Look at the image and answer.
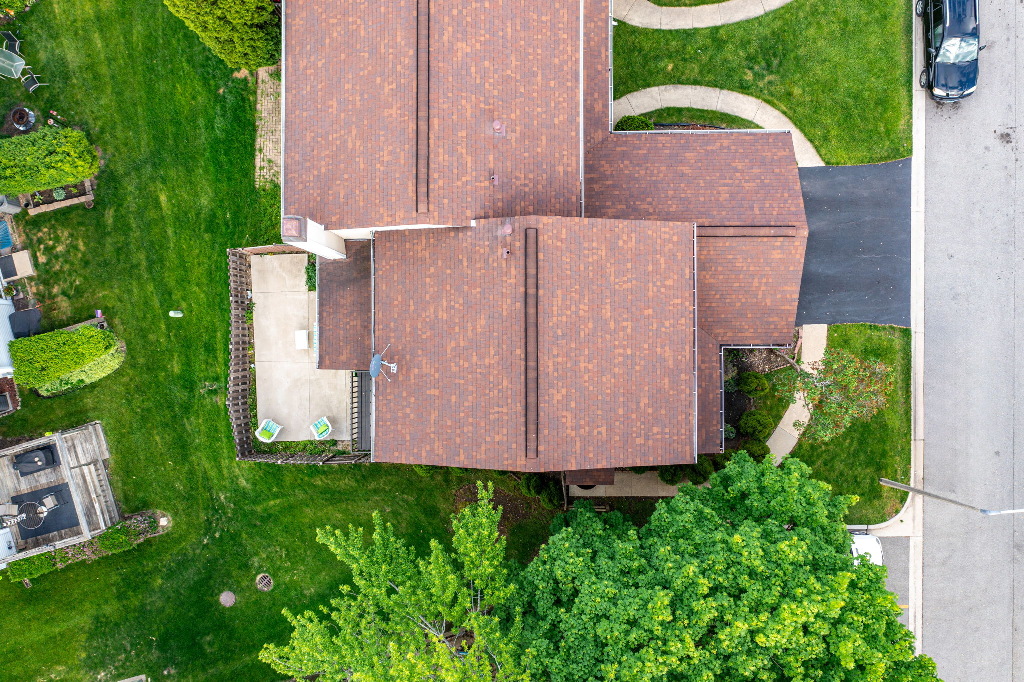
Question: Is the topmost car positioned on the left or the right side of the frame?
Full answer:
The topmost car appears in the right half of the scene.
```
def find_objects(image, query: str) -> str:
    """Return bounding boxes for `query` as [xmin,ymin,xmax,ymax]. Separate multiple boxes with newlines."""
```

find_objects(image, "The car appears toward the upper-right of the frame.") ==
[910,0,988,107]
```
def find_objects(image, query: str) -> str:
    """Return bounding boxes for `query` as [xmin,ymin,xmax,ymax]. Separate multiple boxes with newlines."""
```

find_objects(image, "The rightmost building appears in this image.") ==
[281,0,808,485]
